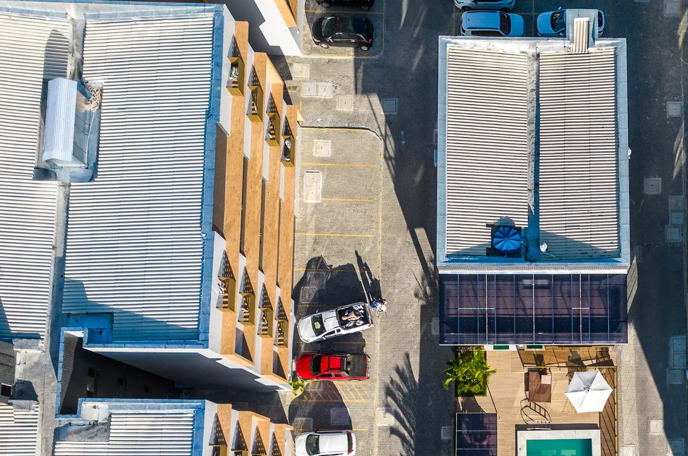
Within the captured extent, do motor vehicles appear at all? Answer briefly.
Yes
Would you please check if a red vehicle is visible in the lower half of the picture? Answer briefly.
Yes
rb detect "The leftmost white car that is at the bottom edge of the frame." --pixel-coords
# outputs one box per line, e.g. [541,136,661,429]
[296,429,357,456]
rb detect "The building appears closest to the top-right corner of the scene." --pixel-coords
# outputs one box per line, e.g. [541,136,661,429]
[436,14,629,275]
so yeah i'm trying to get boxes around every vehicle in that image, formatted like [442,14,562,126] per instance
[313,16,374,50]
[296,349,372,383]
[541,8,603,39]
[296,429,357,456]
[455,0,516,13]
[316,0,377,10]
[462,8,524,39]
[298,304,375,343]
